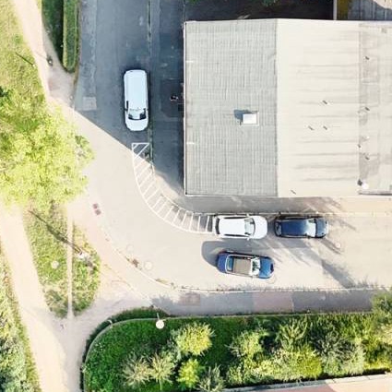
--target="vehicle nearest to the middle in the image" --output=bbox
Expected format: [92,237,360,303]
[215,215,269,243]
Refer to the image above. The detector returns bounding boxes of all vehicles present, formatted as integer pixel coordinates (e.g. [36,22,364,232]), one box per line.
[217,254,275,282]
[275,216,330,243]
[122,71,151,132]
[215,215,269,243]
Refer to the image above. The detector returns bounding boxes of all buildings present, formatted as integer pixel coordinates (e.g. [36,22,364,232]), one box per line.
[181,18,392,199]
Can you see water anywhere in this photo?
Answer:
No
